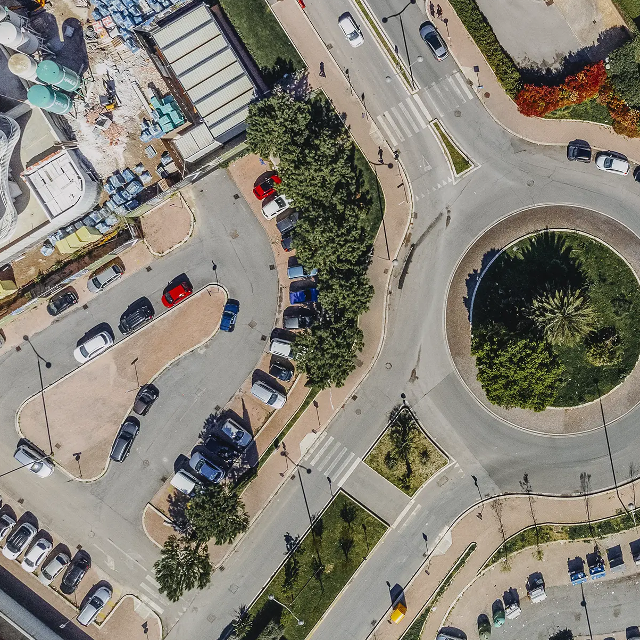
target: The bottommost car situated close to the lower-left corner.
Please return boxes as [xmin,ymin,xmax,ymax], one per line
[77,583,114,630]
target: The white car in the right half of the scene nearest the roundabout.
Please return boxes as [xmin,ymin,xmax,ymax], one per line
[593,153,632,176]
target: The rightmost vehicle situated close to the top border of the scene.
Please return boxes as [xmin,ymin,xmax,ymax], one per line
[419,22,449,63]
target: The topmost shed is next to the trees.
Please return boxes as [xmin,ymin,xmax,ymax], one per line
[148,0,264,141]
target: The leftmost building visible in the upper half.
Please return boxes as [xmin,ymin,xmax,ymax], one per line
[0,85,108,267]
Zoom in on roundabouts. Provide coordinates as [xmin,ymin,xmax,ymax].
[443,203,640,436]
